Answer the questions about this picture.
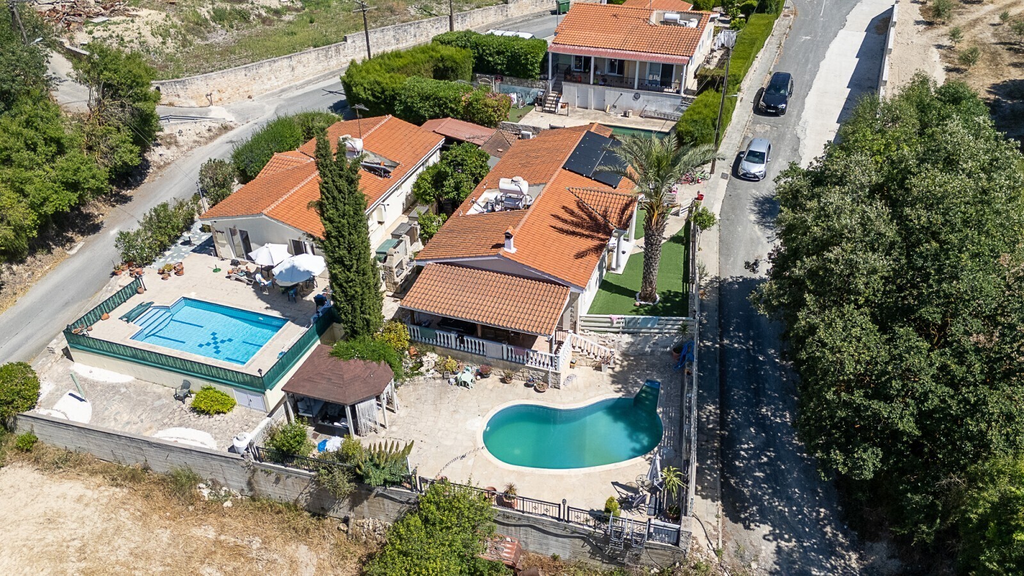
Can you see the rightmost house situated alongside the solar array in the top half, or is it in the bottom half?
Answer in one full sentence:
Seen from above, the rightmost house situated alongside the solar array lies in the top half of the view.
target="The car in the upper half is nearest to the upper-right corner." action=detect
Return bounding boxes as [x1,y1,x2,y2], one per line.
[761,69,794,107]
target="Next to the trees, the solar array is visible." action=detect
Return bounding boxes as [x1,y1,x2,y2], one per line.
[568,128,641,183]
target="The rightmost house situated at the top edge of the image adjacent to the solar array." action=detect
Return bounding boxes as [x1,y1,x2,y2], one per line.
[543,0,715,119]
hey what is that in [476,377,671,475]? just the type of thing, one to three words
swimming pool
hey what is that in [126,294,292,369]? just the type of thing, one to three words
swimming pool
